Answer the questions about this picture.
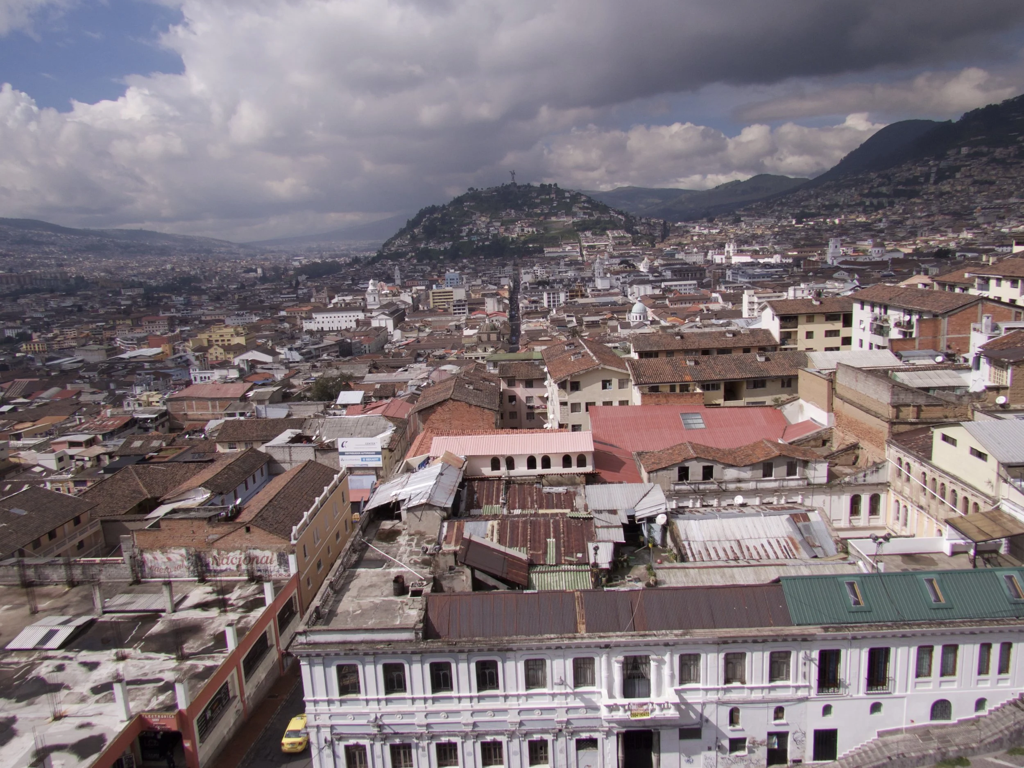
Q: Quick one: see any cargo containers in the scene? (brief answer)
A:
No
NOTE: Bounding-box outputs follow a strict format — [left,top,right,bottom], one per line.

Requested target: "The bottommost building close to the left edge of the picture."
[0,571,302,768]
